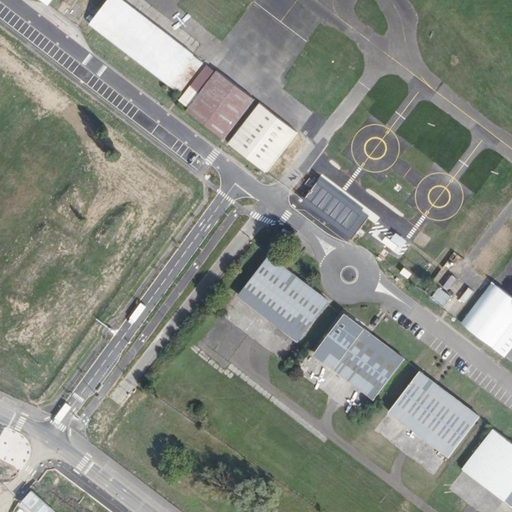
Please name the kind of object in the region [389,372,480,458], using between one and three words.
hangar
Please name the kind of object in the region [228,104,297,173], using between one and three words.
building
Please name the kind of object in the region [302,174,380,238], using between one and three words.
building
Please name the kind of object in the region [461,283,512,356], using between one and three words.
hangar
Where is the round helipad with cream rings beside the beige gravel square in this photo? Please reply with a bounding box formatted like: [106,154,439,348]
[415,140,482,222]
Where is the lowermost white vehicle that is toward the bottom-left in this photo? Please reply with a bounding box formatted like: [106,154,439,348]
[52,404,70,424]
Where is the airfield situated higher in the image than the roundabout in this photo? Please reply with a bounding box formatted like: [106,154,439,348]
[126,0,512,240]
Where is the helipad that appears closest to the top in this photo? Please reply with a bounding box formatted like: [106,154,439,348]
[350,92,419,172]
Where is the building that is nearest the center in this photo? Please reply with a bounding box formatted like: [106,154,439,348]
[240,258,324,336]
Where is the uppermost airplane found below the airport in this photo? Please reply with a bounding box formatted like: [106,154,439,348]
[310,368,325,390]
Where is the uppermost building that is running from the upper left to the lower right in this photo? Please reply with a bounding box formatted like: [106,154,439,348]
[89,0,204,92]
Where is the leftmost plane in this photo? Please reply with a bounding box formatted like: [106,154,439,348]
[174,12,190,29]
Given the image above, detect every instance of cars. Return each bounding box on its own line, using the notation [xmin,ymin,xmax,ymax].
[394,310,402,320]
[416,328,425,339]
[398,314,408,324]
[372,316,380,326]
[187,152,196,162]
[19,484,28,495]
[84,12,93,23]
[306,176,315,186]
[460,364,470,374]
[441,349,450,360]
[403,318,412,328]
[410,322,420,333]
[456,358,465,369]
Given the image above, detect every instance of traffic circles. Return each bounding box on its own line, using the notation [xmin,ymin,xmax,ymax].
[314,234,409,307]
